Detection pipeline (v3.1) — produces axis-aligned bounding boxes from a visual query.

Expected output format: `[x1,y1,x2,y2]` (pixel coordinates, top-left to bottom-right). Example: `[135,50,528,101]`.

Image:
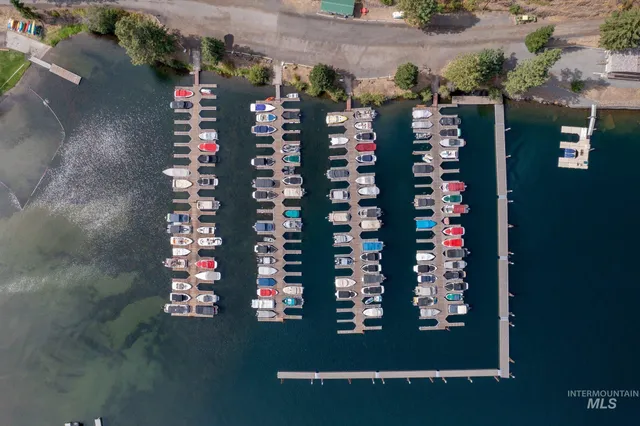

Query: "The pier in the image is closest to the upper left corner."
[29,55,82,85]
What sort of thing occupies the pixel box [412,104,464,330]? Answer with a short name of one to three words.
pier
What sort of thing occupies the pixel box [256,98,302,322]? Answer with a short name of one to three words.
pier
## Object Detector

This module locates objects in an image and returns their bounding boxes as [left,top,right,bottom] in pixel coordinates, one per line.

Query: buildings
[605,51,640,74]
[321,0,356,20]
